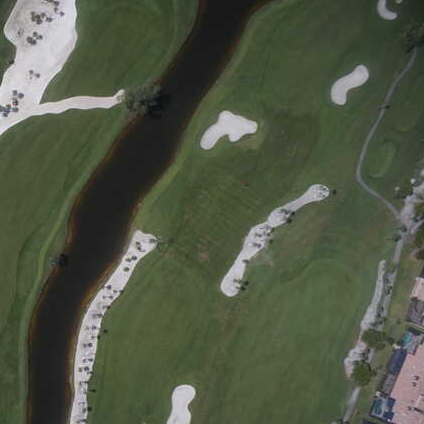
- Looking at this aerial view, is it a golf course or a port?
golf course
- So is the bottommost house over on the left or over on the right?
right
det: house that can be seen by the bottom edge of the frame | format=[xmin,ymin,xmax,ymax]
[378,330,424,424]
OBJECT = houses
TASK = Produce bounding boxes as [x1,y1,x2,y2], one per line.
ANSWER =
[404,262,424,328]
[378,330,424,424]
